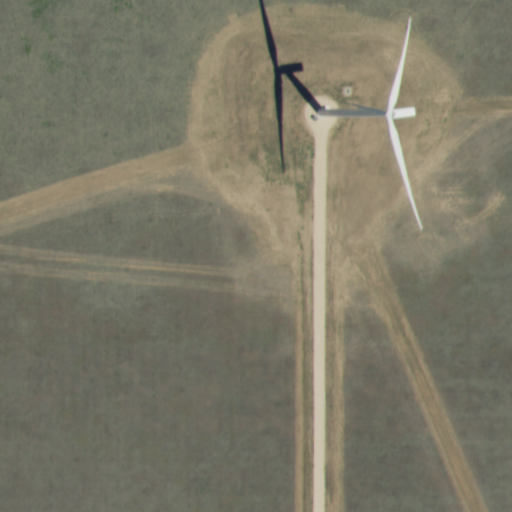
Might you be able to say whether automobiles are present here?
No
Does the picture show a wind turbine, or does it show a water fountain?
wind turbine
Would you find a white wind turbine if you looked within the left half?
No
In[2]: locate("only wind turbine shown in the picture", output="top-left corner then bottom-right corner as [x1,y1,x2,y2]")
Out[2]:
[316,16,422,229]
